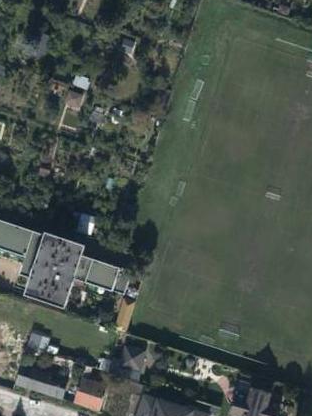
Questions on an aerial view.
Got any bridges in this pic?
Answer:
No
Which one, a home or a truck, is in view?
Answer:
home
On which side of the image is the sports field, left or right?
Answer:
right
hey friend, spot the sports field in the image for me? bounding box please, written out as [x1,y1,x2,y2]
[134,0,312,388]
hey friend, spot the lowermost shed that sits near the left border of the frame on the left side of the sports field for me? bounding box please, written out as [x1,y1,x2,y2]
[15,374,66,402]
